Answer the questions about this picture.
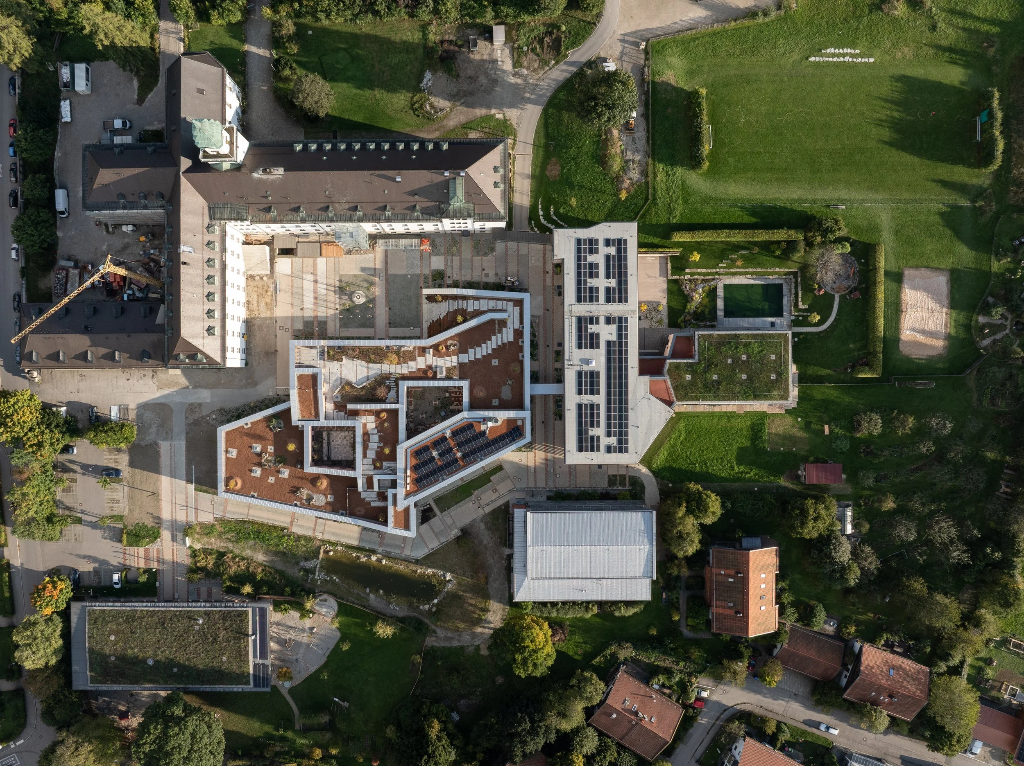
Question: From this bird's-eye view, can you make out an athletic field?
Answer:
Yes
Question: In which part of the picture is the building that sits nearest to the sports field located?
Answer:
center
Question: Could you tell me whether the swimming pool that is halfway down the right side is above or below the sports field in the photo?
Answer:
below it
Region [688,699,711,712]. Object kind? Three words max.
vehicle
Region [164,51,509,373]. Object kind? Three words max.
building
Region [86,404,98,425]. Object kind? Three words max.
vehicle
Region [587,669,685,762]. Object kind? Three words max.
house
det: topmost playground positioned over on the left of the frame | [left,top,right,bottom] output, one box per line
[271,603,341,694]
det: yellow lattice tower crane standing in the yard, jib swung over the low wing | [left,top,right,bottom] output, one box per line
[10,253,165,342]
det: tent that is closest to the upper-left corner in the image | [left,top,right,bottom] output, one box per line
[242,244,270,274]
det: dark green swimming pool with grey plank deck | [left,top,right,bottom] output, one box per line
[717,278,791,327]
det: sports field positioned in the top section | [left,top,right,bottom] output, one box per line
[638,13,999,232]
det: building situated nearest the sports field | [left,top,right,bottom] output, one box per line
[552,221,675,464]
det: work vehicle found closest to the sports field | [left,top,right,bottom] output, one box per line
[626,111,638,137]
